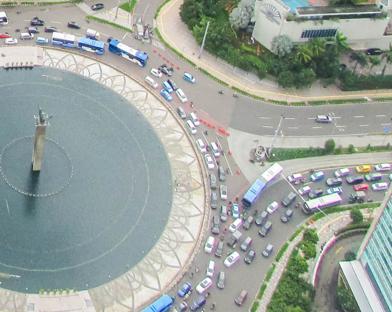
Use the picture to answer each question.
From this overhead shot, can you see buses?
Yes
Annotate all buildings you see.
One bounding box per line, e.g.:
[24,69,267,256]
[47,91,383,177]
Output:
[255,0,392,55]
[337,180,392,312]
